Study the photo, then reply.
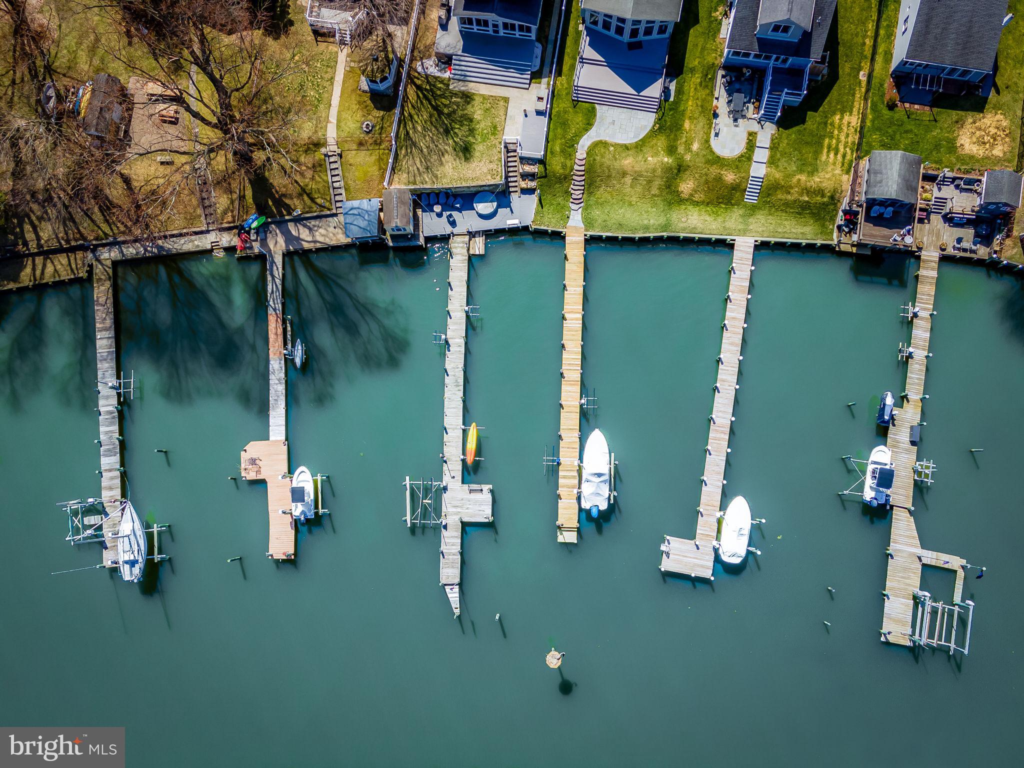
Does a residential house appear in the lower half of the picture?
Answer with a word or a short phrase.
No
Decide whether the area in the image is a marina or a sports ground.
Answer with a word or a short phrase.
marina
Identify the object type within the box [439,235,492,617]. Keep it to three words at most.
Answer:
pier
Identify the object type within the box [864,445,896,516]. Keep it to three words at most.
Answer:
boat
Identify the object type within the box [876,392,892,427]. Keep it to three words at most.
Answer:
boat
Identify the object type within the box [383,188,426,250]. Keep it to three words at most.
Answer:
shed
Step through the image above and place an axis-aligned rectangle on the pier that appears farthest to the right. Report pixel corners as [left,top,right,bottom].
[872,252,966,645]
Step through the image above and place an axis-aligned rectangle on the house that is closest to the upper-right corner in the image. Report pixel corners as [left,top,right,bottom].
[892,0,1024,108]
